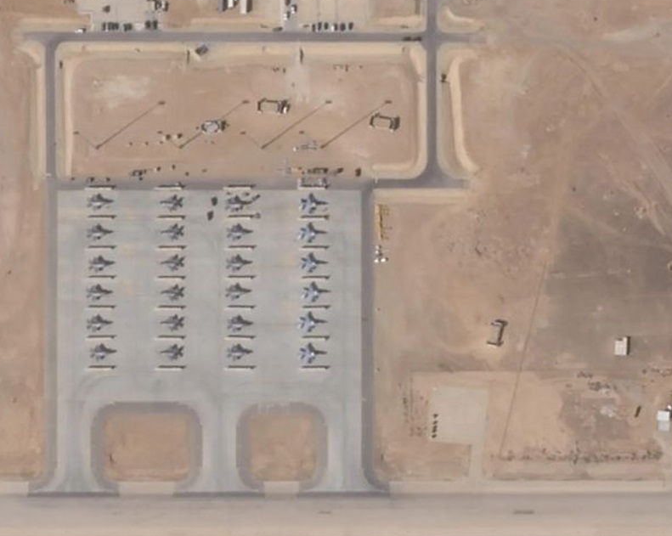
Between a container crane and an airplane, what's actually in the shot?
airplane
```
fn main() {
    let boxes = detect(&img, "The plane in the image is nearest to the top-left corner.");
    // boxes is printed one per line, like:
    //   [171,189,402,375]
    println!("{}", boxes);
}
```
[87,194,109,210]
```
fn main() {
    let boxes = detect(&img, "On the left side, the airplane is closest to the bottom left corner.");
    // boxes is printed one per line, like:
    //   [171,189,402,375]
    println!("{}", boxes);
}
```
[90,344,114,361]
